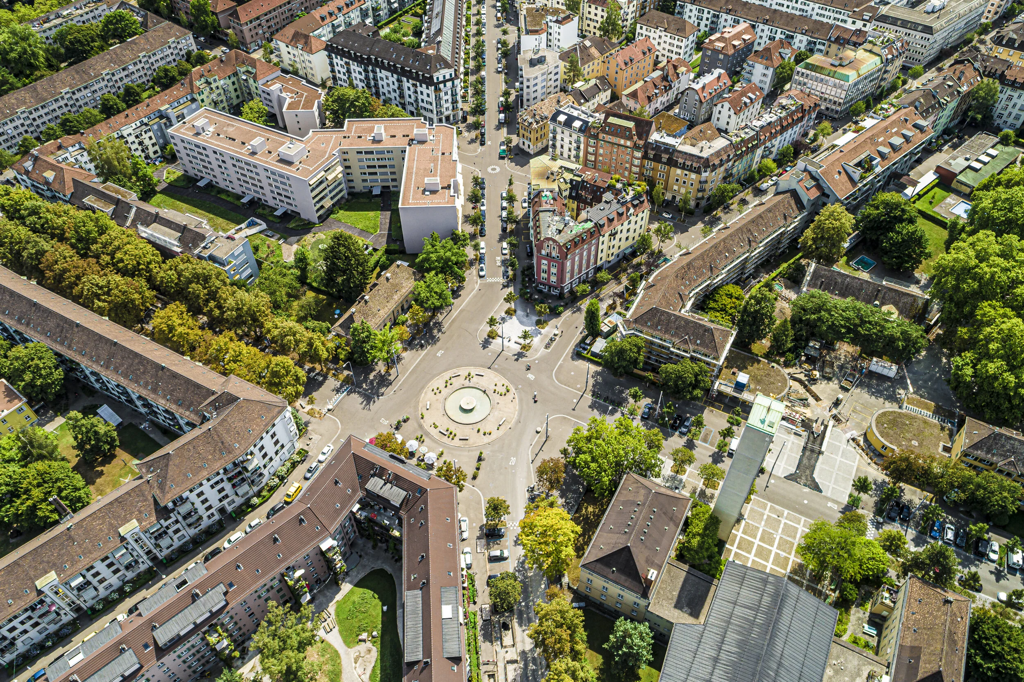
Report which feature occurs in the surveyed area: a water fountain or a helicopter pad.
water fountain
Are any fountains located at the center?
Yes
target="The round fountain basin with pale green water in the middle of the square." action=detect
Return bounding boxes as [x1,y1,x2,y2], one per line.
[440,383,496,428]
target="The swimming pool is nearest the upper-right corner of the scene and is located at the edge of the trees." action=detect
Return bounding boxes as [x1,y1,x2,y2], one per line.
[950,199,972,218]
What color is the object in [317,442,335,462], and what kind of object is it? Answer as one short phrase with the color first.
white car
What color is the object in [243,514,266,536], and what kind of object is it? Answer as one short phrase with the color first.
white car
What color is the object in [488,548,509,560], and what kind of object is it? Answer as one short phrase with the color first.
white vehicle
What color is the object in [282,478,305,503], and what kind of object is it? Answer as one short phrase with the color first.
yellow vehicle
